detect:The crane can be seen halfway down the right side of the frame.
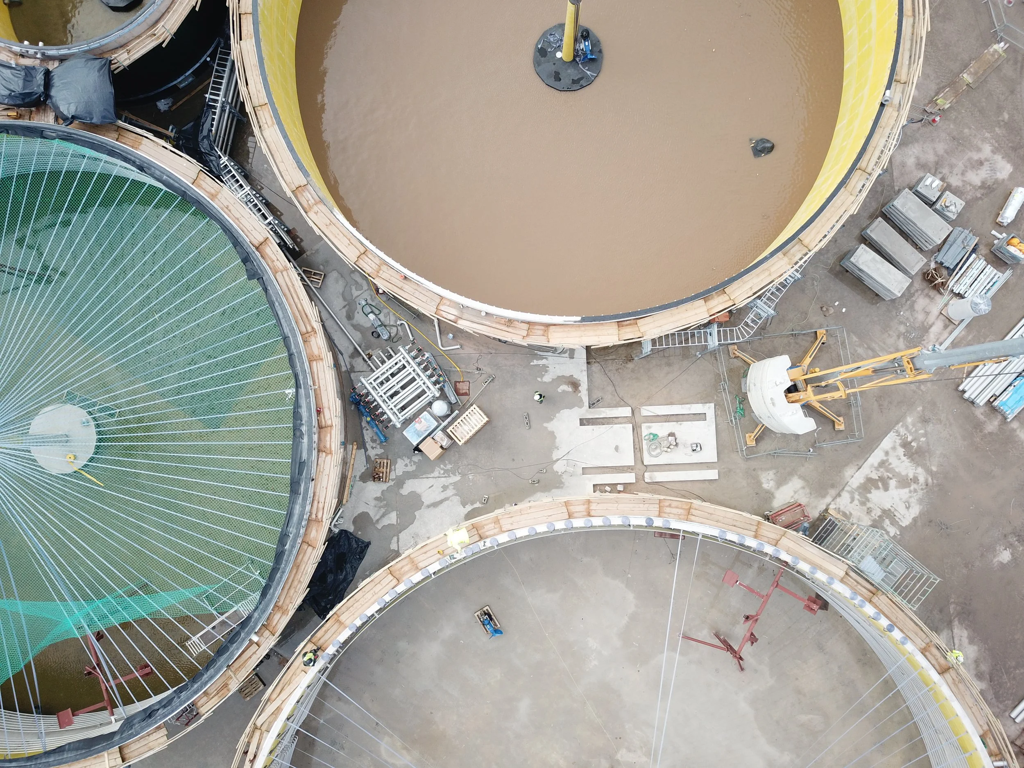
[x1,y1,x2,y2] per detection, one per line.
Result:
[726,329,1024,448]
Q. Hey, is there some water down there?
Yes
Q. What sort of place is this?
industrial area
